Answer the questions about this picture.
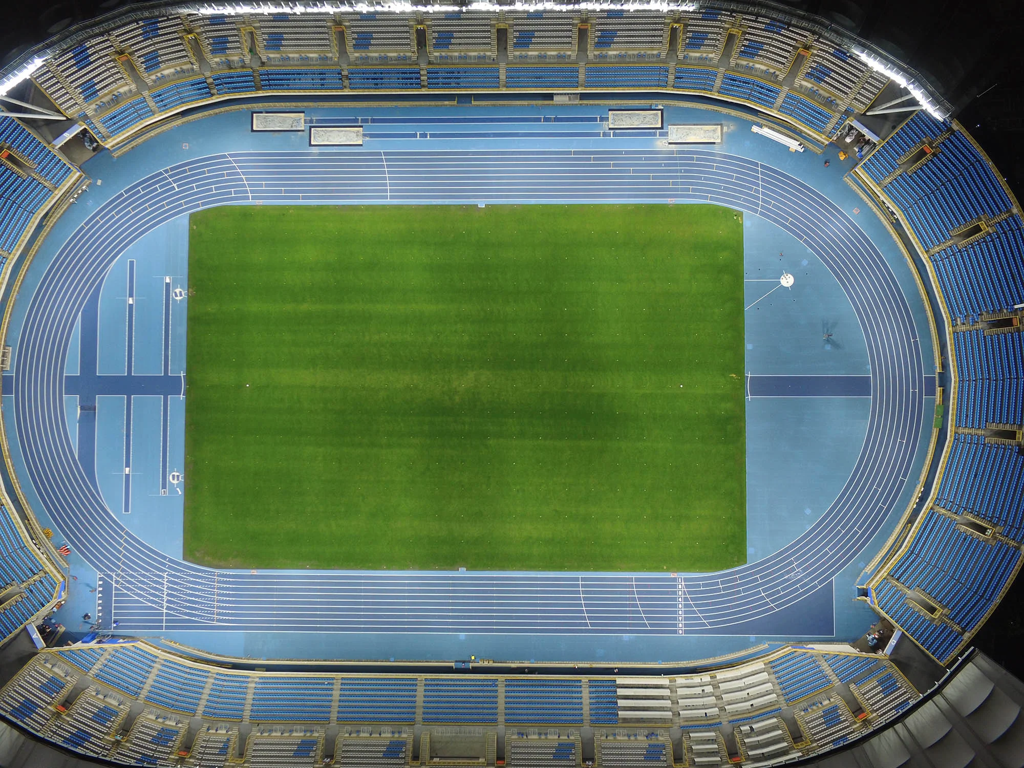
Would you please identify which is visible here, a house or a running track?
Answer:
running track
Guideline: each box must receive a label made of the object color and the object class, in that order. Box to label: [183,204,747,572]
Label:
green sports field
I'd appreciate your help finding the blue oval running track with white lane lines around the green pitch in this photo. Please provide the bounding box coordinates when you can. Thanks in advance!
[3,106,935,662]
